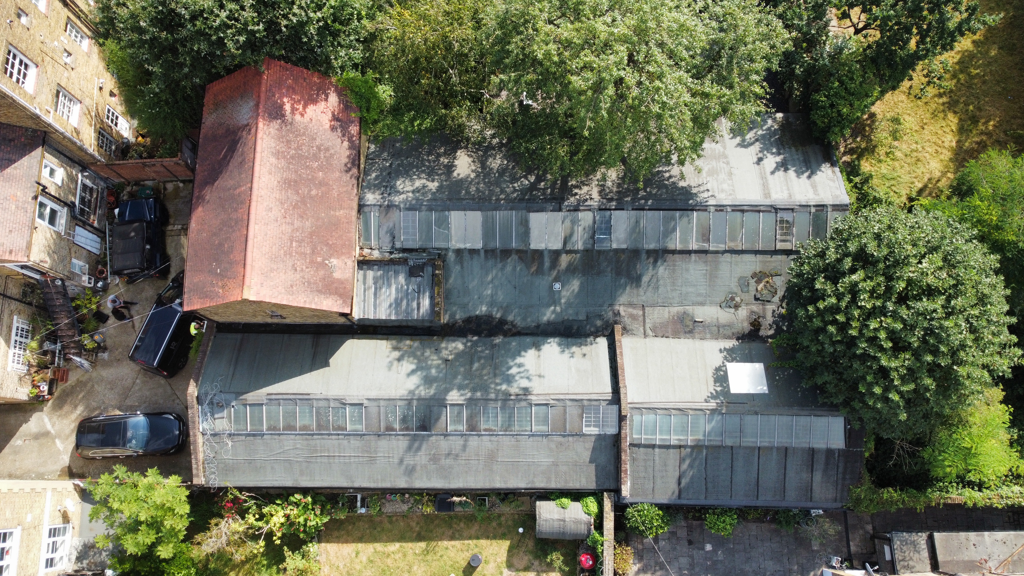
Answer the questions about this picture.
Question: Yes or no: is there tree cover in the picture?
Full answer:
Yes, tree cover can be seen from above here.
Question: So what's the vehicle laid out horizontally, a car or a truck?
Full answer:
It turns out the vehicle laid out horizontally is a car.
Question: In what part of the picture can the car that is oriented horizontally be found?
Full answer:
You can find the car that is oriented horizontally in the bottom left area of the picture.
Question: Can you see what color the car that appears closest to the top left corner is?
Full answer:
The color of the car that appears closest to the top left corner is black.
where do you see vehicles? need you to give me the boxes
[112,201,173,291]
[126,260,206,377]
[71,410,189,461]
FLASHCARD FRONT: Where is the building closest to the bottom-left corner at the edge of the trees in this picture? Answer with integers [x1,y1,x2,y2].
[0,481,85,576]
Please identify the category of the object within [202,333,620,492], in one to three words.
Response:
building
